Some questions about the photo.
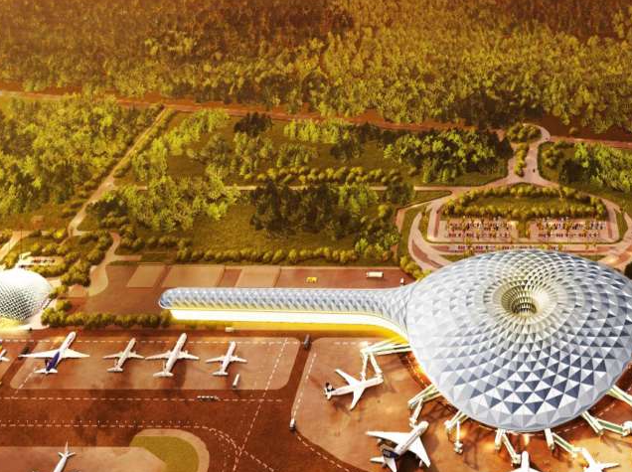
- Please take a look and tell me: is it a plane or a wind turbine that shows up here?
plane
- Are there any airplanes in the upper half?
No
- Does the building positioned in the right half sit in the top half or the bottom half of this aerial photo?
bottom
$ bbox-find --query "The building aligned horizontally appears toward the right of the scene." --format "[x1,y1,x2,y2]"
[158,249,632,432]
